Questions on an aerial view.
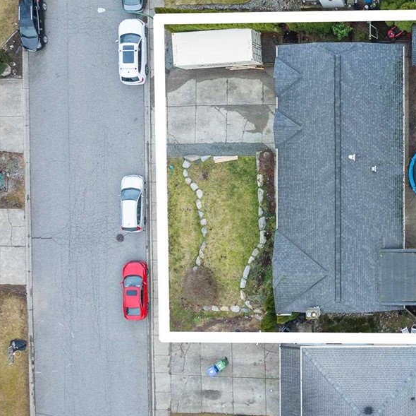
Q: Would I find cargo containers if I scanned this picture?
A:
Yes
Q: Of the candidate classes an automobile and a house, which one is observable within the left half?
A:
automobile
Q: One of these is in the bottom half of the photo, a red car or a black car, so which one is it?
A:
red car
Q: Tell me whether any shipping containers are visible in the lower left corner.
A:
No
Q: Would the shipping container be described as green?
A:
No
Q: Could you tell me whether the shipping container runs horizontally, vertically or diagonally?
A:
horizontally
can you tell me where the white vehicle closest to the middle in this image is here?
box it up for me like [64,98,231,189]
[117,175,148,232]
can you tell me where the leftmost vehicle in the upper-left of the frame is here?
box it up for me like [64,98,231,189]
[15,0,50,53]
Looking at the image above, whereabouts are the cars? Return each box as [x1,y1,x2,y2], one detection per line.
[15,0,50,53]
[116,21,149,85]
[120,262,151,319]
[117,175,148,232]
[121,0,149,14]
